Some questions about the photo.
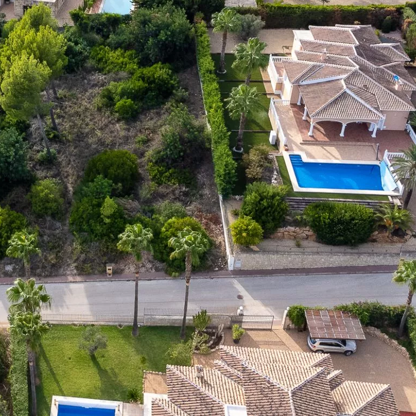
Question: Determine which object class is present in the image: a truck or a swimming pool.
swimming pool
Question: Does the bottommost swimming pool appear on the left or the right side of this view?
left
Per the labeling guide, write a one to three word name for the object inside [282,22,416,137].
house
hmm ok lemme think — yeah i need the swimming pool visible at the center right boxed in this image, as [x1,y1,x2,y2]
[283,151,402,193]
